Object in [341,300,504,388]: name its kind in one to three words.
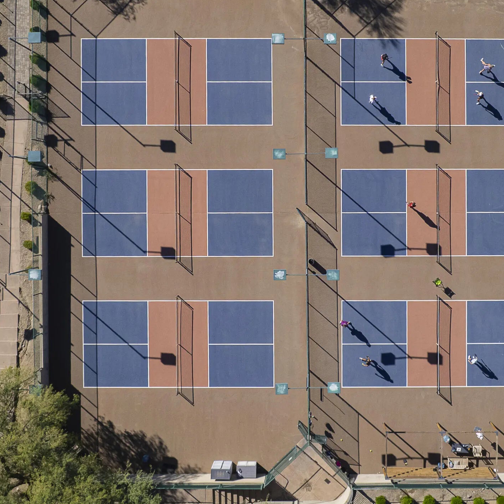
sports court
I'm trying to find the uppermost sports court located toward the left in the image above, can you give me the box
[81,38,273,125]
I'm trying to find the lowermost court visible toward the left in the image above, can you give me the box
[83,300,274,388]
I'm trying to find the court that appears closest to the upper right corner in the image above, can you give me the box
[340,38,504,125]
